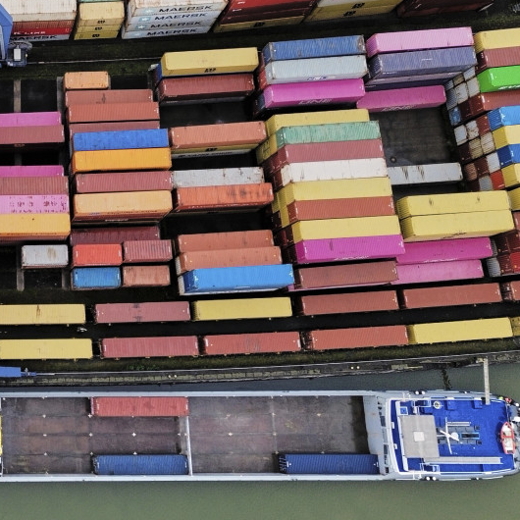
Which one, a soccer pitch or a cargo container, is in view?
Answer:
cargo container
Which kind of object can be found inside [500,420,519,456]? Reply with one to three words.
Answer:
boat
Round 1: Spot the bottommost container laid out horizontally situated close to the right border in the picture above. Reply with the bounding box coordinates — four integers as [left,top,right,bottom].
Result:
[407,318,511,345]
